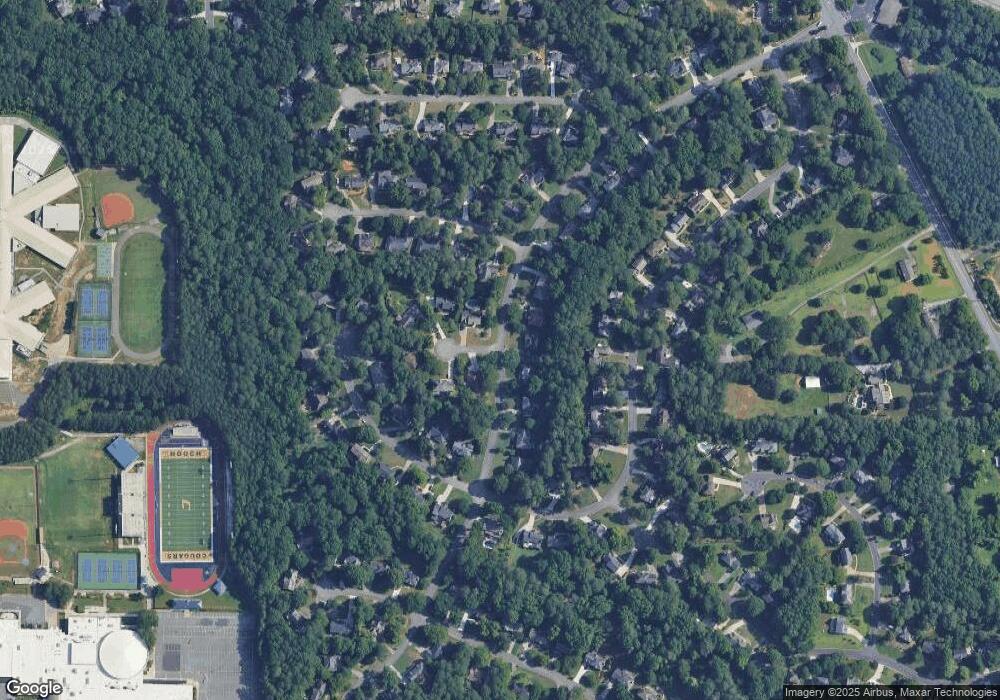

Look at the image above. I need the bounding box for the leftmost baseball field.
[0,464,38,575]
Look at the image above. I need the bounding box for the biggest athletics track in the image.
[146,424,228,597]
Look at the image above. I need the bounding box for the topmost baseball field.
[93,168,162,227]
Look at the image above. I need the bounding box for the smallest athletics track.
[111,224,176,362]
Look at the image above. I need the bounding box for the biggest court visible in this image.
[97,243,112,277]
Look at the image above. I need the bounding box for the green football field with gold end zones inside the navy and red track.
[159,447,213,562]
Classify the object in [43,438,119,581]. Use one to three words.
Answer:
sports field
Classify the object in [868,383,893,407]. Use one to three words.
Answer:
house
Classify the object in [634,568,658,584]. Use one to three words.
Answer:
house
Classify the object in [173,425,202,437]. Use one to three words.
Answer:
building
